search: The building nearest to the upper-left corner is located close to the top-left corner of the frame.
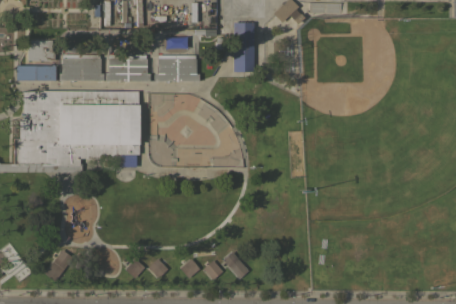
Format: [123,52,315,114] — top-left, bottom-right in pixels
[26,41,54,62]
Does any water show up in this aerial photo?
No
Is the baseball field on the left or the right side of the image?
right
